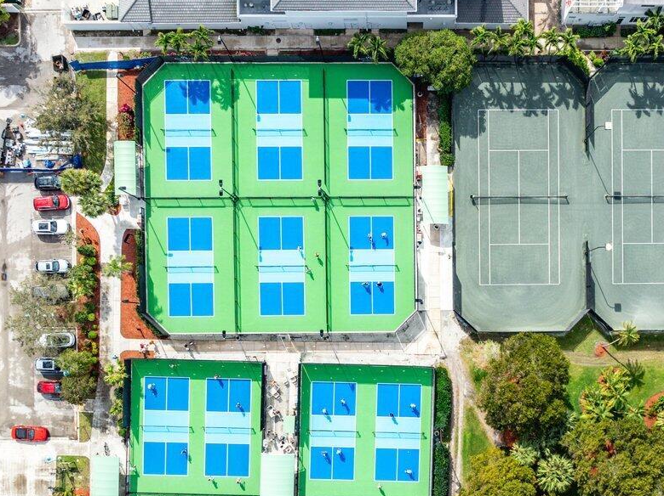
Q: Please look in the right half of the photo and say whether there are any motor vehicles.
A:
No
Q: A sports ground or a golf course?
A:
sports ground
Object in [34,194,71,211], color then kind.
red car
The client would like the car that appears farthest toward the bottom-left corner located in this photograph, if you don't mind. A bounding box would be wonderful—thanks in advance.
[12,425,51,442]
